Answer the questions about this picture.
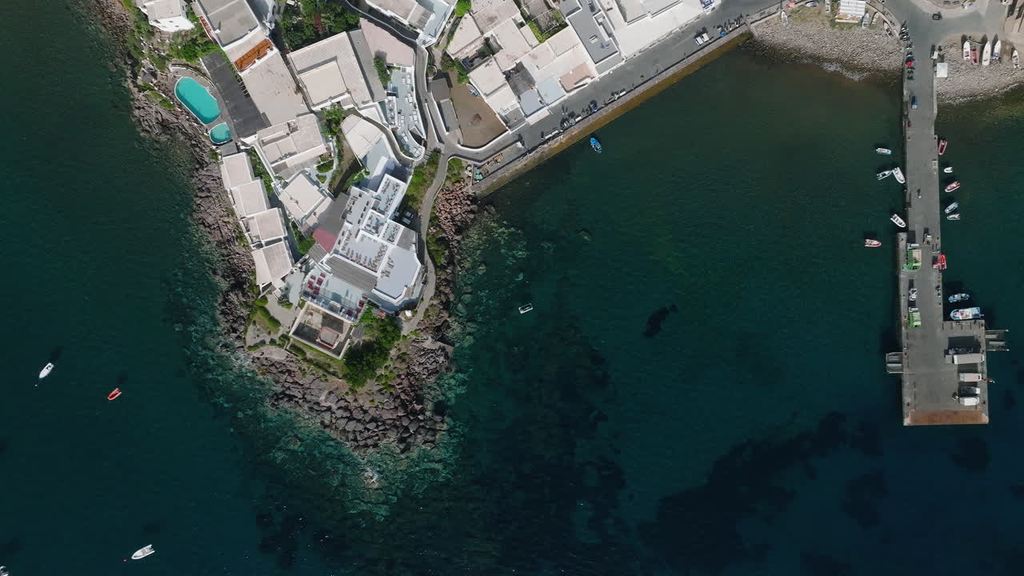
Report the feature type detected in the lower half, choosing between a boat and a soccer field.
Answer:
boat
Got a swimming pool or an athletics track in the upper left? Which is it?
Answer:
swimming pool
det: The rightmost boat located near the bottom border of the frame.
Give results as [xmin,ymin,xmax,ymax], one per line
[131,543,157,560]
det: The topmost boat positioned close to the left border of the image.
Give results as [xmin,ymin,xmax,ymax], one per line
[38,362,55,378]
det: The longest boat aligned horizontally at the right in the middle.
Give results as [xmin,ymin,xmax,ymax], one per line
[949,307,985,319]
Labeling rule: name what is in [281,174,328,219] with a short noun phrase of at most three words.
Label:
house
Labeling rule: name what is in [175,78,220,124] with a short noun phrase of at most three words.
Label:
swimming pool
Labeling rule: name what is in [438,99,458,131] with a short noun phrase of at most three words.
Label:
shed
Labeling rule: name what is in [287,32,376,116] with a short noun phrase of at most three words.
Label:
house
